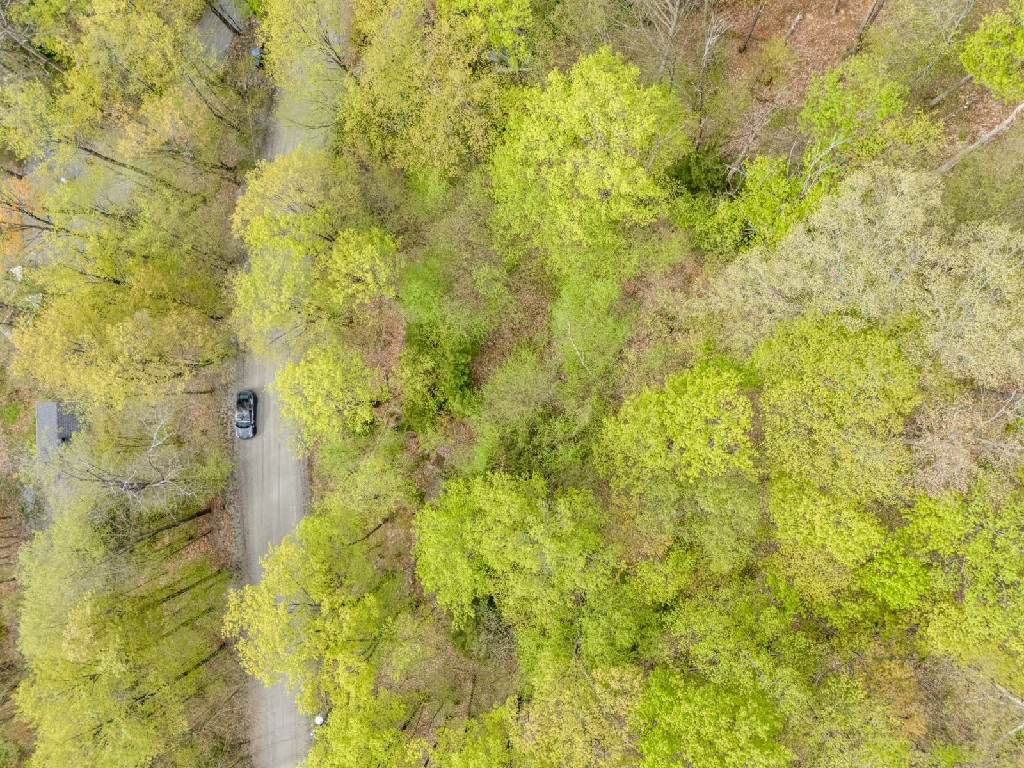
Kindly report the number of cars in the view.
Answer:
one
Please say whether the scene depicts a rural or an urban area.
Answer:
rural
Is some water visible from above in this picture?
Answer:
No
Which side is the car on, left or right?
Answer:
left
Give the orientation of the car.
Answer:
up and down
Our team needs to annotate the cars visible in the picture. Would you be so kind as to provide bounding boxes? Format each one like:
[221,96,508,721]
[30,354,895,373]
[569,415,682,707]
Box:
[231,391,256,439]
